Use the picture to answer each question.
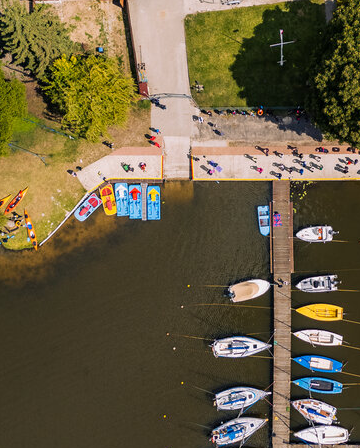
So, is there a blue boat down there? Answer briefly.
Yes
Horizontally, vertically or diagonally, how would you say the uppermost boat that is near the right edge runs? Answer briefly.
horizontally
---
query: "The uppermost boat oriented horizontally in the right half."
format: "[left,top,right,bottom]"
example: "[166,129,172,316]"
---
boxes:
[291,223,347,244]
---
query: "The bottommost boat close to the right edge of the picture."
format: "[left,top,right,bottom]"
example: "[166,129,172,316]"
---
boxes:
[291,423,350,448]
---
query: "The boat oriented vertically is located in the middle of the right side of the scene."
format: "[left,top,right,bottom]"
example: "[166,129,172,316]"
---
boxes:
[258,206,273,237]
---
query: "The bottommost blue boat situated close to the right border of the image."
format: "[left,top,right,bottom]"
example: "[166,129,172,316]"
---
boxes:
[292,377,357,394]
